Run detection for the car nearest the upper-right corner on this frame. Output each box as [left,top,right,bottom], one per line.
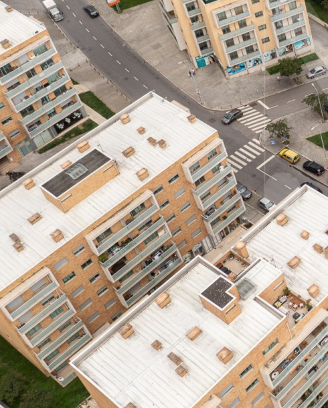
[304,66,327,80]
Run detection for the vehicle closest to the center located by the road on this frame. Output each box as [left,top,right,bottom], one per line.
[235,183,256,200]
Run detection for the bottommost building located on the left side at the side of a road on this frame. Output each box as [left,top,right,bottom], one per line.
[0,92,247,380]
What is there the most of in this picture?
buildings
